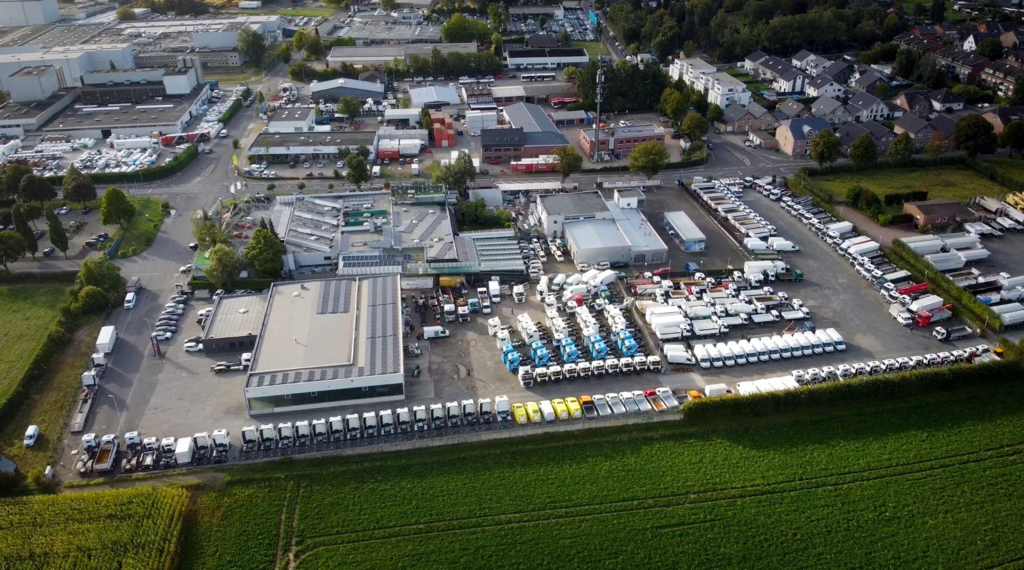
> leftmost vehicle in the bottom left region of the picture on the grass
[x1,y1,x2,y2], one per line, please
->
[19,422,46,446]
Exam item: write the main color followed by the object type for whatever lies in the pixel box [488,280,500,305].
white vehicle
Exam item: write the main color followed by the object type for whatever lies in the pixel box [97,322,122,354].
white truck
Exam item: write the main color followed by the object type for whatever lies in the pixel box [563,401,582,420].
yellow vehicle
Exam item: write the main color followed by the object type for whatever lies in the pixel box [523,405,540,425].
yellow vehicle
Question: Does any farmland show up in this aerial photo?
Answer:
Yes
